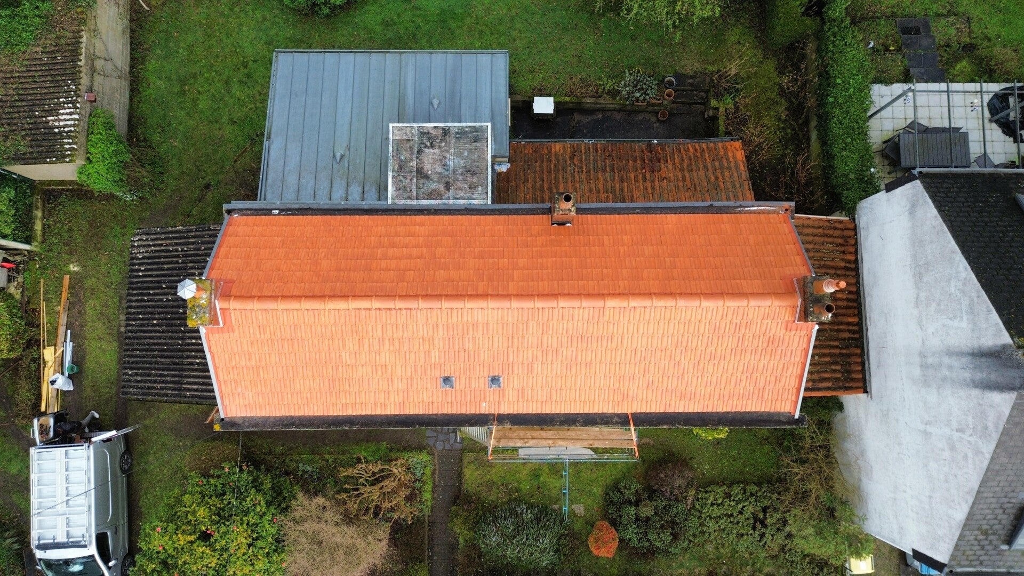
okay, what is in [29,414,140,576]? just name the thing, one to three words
van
